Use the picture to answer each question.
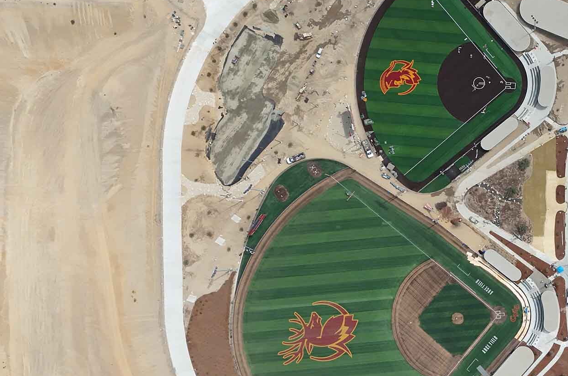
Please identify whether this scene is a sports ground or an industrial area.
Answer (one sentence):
This image shows a sports ground.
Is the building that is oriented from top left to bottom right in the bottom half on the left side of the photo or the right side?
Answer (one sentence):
The building that is oriented from top left to bottom right in the bottom half appears in the right half of the scene.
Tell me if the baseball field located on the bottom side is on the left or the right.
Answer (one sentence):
The baseball field located on the bottom side is on the right side of the image.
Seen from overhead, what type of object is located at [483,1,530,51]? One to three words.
building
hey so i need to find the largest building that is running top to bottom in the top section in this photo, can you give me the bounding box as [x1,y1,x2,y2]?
[538,66,557,107]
